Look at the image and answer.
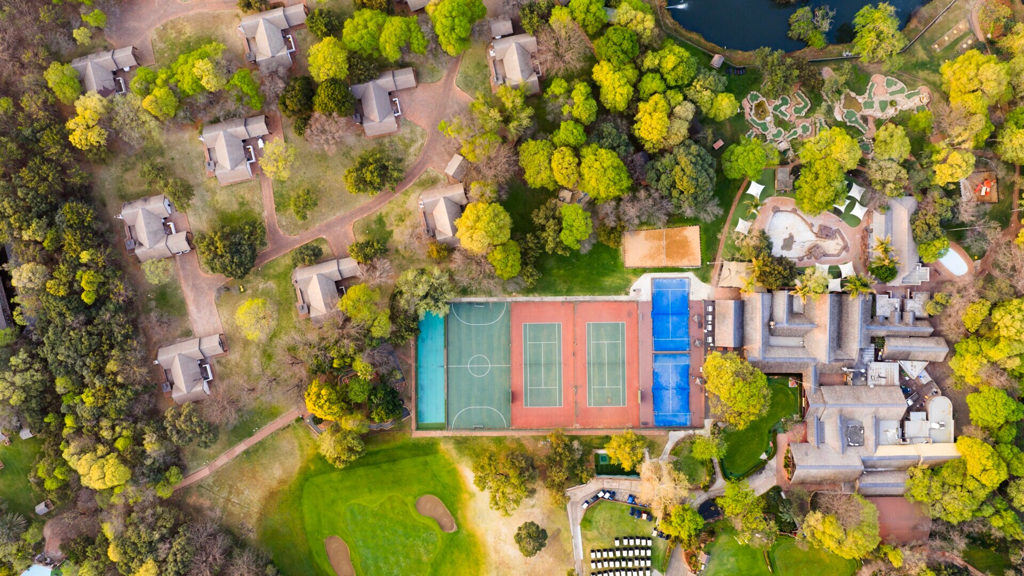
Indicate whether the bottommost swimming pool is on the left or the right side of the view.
left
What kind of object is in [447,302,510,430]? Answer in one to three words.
sports court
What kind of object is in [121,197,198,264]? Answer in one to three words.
house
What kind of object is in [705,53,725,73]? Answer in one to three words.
gazebo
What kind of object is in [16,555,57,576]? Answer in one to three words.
swimming pool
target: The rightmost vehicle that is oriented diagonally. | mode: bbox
[905,390,923,407]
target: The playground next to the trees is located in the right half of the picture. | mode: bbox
[959,170,1000,204]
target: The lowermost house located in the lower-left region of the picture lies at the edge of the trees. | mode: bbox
[36,490,69,516]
